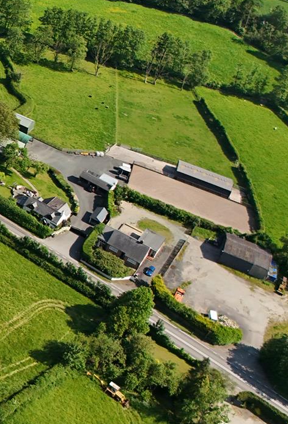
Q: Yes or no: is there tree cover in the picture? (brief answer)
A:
Yes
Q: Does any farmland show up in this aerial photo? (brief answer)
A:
Yes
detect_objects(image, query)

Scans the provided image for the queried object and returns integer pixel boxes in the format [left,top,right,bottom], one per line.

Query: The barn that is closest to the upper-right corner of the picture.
[174,164,235,201]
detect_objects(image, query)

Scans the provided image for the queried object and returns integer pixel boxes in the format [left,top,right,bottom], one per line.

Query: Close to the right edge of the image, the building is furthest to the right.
[220,236,278,286]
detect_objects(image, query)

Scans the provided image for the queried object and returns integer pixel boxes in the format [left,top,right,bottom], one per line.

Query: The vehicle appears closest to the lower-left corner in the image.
[93,371,132,407]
